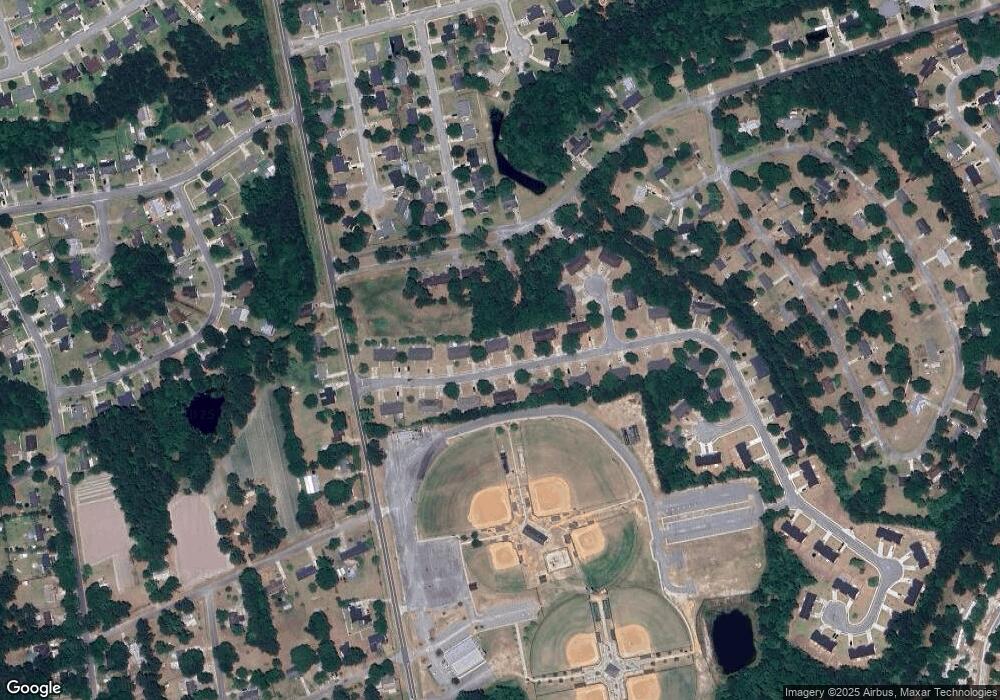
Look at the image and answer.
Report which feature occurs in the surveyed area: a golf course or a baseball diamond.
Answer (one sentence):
There is a baseball diamond in the scene.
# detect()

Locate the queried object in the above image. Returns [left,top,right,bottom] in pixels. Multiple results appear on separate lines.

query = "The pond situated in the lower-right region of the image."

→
[712,608,755,674]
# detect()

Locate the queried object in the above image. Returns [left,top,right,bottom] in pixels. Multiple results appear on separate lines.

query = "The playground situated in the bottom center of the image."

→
[545,549,572,572]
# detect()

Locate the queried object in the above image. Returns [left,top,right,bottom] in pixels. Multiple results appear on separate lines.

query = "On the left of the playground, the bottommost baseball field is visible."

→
[463,538,524,594]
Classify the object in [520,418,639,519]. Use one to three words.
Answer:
baseball field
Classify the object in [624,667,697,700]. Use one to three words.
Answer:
baseball field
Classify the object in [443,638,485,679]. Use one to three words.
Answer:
building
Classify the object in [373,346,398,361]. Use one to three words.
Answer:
house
